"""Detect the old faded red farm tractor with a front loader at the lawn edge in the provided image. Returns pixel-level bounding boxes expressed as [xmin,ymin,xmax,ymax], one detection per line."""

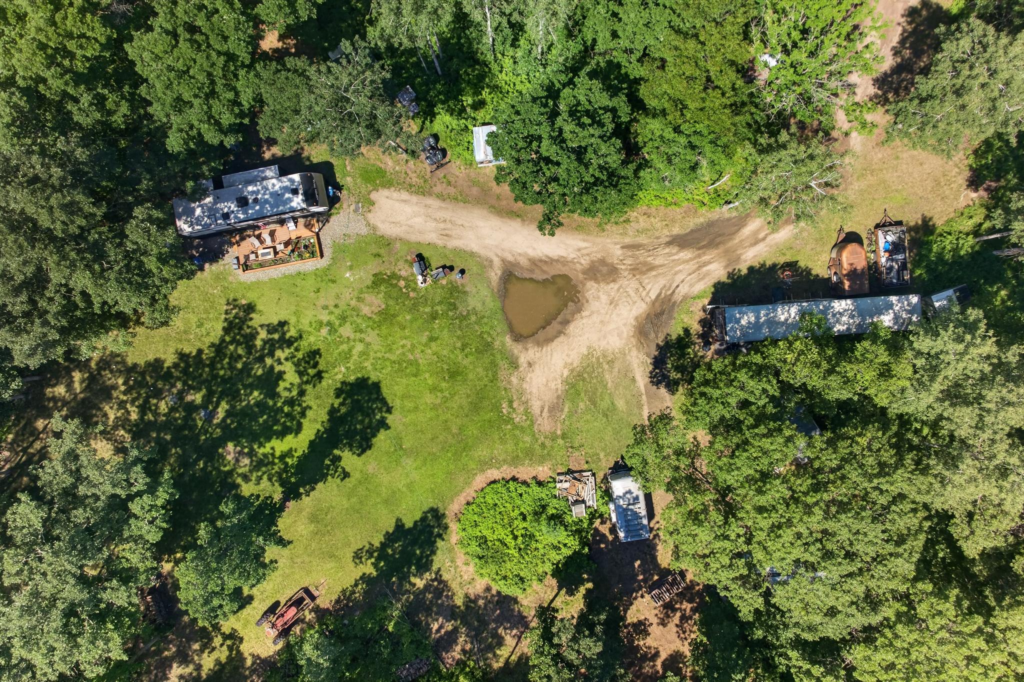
[254,578,328,648]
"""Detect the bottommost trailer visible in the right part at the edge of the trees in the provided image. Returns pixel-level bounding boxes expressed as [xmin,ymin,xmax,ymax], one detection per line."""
[606,457,649,541]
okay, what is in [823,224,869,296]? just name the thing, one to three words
trailer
